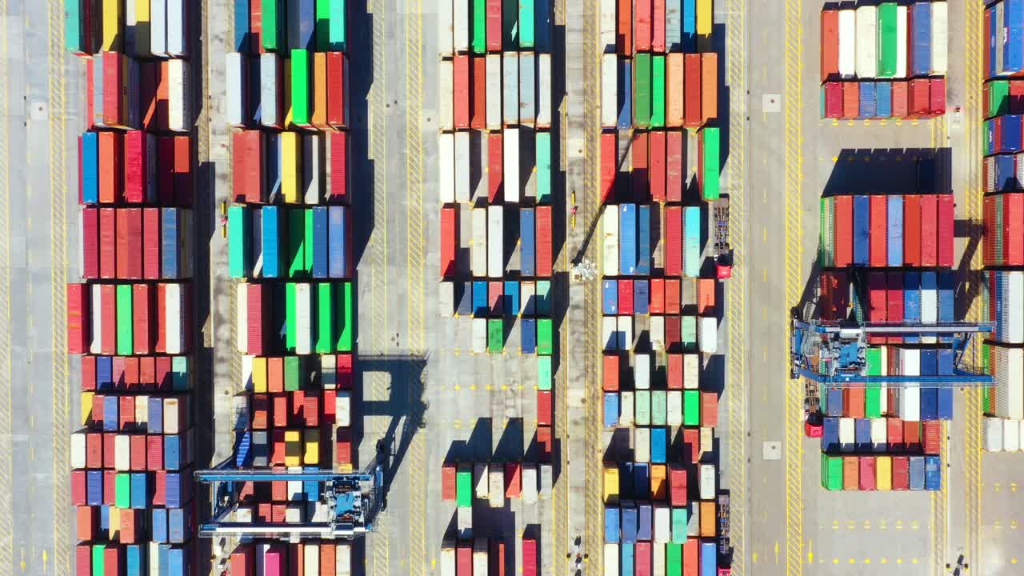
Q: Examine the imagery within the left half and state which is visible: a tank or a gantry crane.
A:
gantry crane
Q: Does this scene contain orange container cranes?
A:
No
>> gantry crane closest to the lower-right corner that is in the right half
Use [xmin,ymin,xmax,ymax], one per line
[788,302,996,388]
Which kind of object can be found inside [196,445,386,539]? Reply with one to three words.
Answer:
container crane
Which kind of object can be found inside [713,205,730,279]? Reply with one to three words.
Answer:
vehicle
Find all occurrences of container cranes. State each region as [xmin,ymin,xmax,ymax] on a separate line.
[196,445,386,539]
[788,302,996,388]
